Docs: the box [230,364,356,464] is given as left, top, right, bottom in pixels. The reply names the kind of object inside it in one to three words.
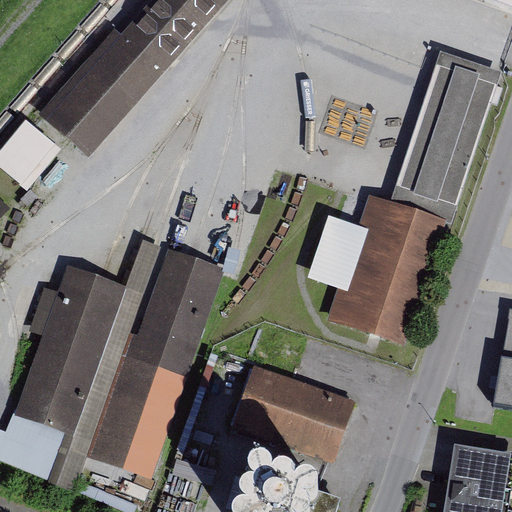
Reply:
shed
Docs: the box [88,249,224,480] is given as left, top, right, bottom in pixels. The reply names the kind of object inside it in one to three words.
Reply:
building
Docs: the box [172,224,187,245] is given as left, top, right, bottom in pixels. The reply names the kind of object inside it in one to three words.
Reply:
vehicle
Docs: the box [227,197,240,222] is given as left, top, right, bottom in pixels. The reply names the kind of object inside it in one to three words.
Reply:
vehicle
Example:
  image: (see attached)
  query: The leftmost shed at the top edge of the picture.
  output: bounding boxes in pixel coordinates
[40,0,230,156]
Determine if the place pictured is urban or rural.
urban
